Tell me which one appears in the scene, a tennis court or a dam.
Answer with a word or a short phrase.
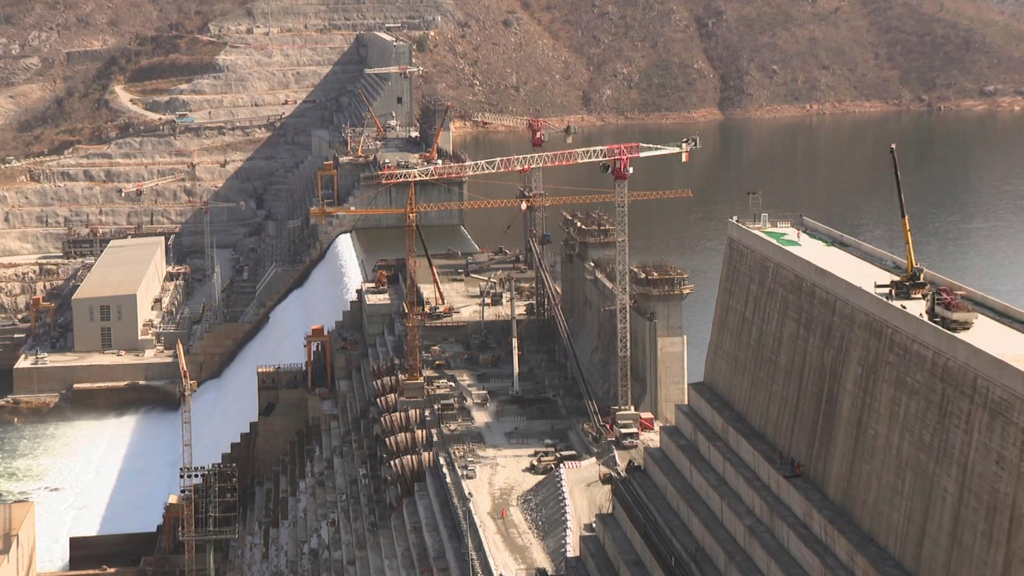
dam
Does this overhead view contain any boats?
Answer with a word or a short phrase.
No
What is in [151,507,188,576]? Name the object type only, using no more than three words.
container crane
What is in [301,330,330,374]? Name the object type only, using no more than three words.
container crane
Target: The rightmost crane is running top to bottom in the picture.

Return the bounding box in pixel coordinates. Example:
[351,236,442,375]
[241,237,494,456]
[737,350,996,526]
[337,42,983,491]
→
[878,141,942,302]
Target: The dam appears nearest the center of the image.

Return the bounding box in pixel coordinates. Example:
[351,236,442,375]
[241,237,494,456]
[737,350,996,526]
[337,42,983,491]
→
[353,252,532,352]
